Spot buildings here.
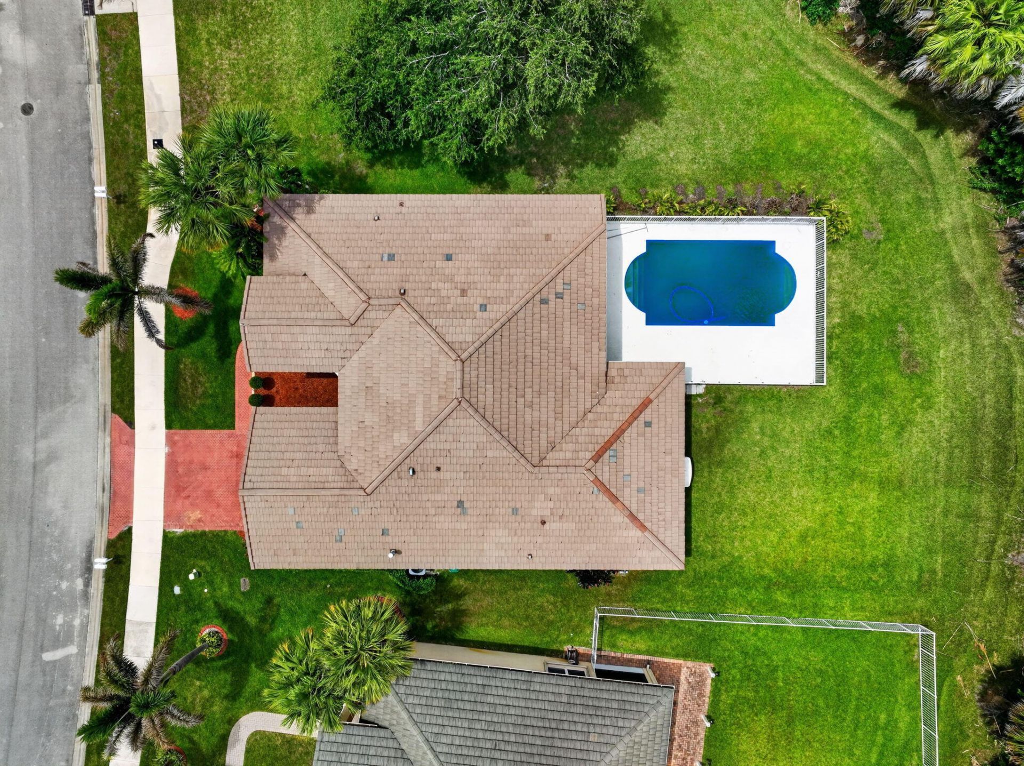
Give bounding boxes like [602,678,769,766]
[233,193,691,571]
[312,641,675,766]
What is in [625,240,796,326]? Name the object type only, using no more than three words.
swimming pool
